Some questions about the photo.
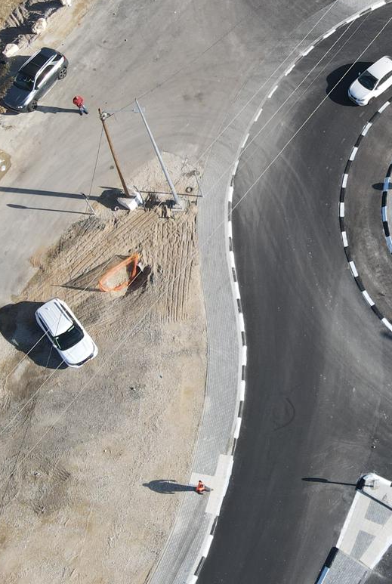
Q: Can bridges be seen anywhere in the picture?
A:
No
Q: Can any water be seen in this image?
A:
No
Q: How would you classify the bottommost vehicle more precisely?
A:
car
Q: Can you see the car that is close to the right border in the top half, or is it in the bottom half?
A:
top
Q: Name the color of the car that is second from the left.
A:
white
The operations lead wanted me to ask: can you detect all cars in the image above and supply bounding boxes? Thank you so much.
[0,46,66,114]
[33,296,103,369]
[346,52,392,105]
